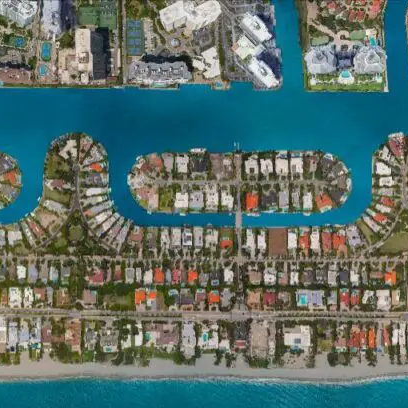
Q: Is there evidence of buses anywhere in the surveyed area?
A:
No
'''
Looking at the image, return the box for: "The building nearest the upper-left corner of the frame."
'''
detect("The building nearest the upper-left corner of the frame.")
[0,0,39,28]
